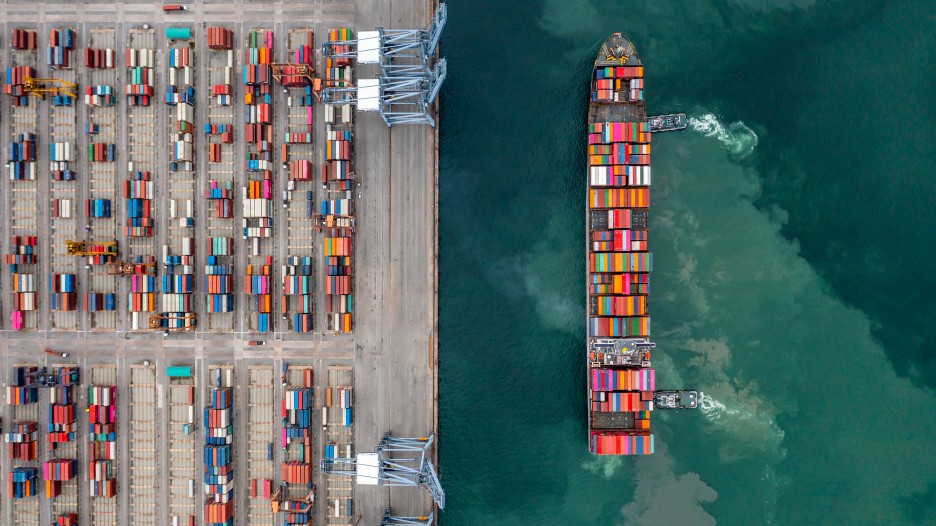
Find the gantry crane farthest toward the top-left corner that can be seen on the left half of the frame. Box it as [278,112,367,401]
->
[20,75,78,99]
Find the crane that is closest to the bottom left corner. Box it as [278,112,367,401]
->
[21,369,79,389]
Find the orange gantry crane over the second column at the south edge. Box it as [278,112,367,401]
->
[270,486,314,513]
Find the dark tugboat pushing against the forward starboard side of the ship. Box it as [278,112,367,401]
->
[645,113,688,134]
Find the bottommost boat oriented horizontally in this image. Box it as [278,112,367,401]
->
[649,389,698,409]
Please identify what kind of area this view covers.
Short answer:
port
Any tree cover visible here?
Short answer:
No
